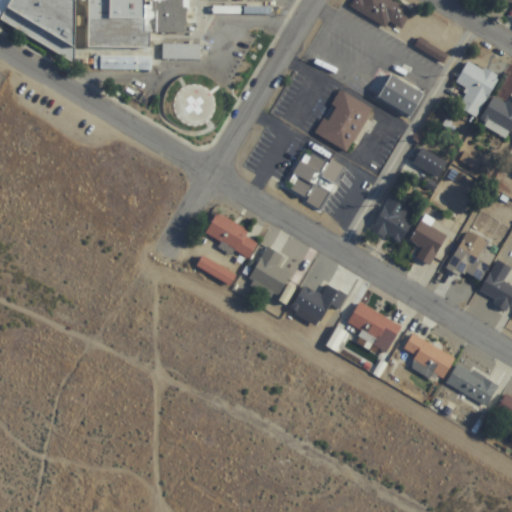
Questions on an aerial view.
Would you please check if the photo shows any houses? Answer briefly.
Yes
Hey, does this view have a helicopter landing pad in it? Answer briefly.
Yes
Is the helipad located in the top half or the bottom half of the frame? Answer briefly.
top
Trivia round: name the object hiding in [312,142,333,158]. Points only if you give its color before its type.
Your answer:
white vehicle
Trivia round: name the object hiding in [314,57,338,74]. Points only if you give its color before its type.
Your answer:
white vehicle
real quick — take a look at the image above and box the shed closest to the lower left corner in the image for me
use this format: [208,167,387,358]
[196,256,237,286]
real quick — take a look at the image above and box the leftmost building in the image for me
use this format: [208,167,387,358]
[0,0,74,60]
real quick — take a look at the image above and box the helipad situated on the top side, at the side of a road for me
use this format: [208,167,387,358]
[164,74,224,134]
